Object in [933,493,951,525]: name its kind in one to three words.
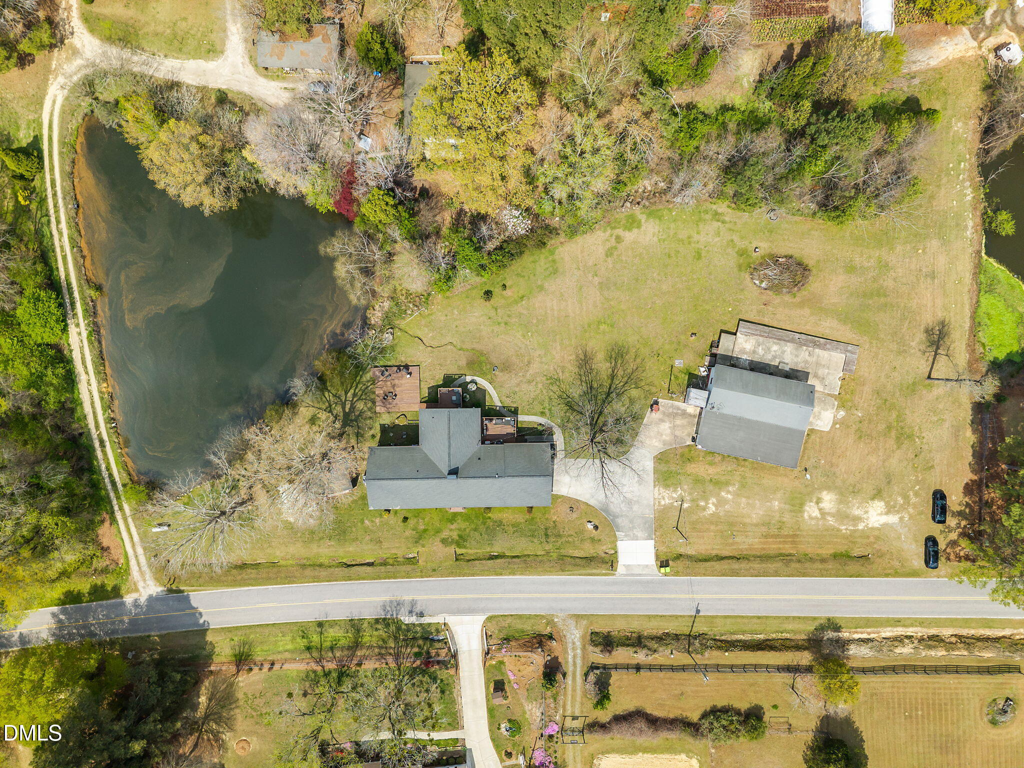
car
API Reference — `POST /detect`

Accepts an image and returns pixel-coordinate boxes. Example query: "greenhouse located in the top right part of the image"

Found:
[861,0,895,34]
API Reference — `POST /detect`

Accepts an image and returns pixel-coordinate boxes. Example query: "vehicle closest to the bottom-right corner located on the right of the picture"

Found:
[925,538,941,570]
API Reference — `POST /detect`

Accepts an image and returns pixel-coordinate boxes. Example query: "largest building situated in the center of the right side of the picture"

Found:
[694,364,815,469]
